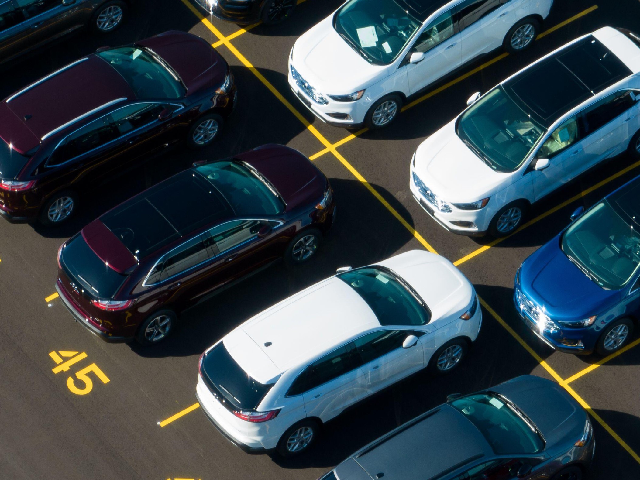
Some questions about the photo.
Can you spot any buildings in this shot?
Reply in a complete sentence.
No, this view has no building in it.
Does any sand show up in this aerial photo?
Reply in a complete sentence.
No, the scene doesn't show any sand.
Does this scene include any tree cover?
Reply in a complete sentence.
No, there is no tree cover in the image.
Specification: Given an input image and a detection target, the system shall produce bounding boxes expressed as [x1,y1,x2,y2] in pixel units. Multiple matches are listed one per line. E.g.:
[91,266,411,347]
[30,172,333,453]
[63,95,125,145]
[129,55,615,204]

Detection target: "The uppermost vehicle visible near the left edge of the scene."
[0,0,137,77]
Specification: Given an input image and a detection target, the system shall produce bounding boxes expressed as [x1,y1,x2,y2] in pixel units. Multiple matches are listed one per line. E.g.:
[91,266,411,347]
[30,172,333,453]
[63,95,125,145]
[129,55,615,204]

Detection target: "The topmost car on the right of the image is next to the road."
[289,0,559,130]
